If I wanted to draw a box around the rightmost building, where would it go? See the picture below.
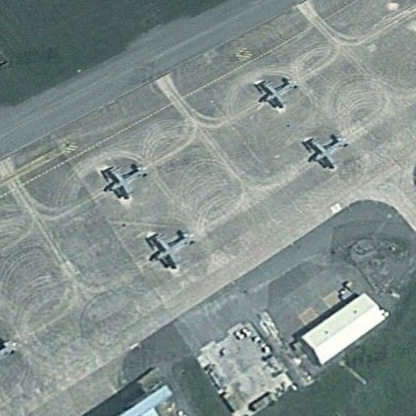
[303,293,389,365]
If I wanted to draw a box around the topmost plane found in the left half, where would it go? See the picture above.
[109,163,149,199]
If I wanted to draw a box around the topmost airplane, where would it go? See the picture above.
[258,75,301,112]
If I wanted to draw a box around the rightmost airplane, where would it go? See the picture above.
[309,133,351,169]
